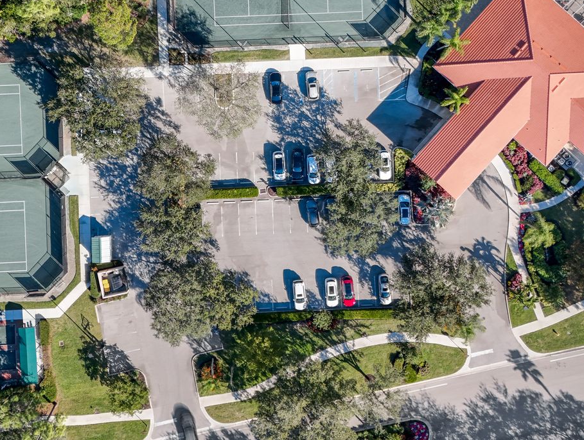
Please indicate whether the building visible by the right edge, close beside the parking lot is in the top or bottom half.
top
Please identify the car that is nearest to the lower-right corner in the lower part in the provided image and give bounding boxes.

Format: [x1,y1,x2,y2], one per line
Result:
[379,274,392,305]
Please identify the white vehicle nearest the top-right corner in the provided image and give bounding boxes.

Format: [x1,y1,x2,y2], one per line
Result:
[379,150,392,181]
